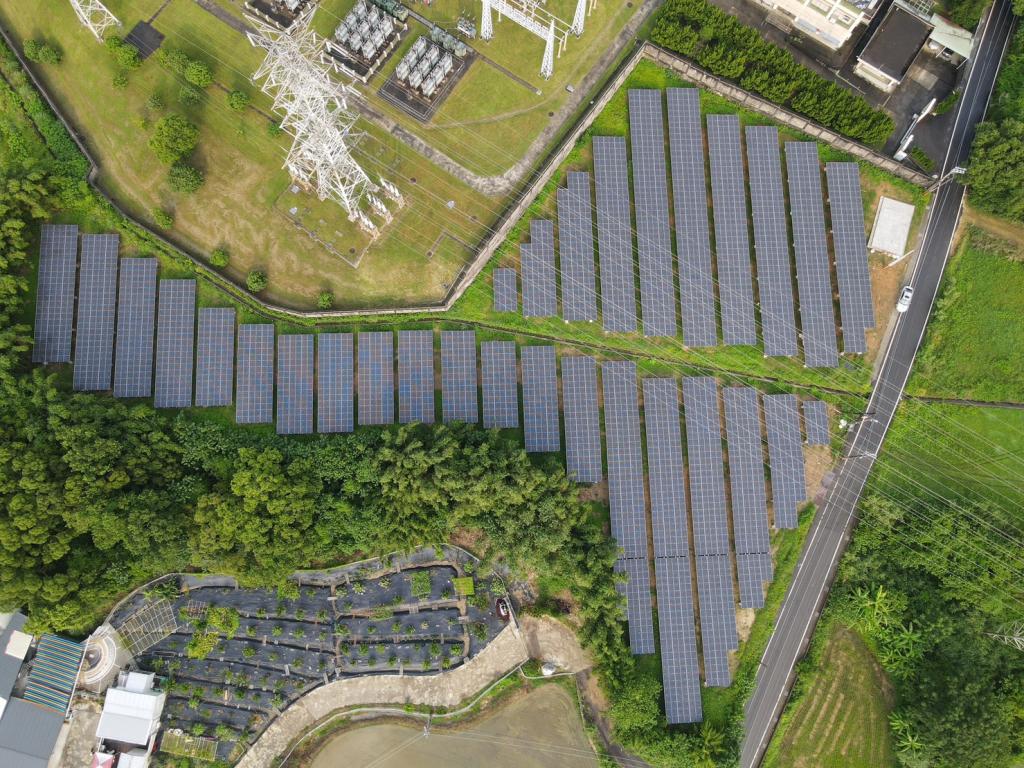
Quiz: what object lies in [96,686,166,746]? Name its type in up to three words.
house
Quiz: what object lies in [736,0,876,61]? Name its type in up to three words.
building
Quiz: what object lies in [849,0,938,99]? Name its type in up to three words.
house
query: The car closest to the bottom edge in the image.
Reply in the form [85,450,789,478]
[892,286,911,312]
